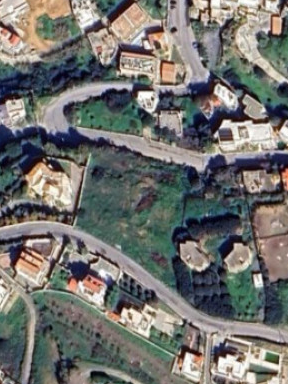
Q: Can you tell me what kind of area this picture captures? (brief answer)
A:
residential area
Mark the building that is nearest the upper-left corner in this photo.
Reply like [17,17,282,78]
[0,0,32,25]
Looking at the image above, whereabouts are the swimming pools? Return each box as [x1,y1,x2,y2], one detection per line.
[262,349,281,366]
